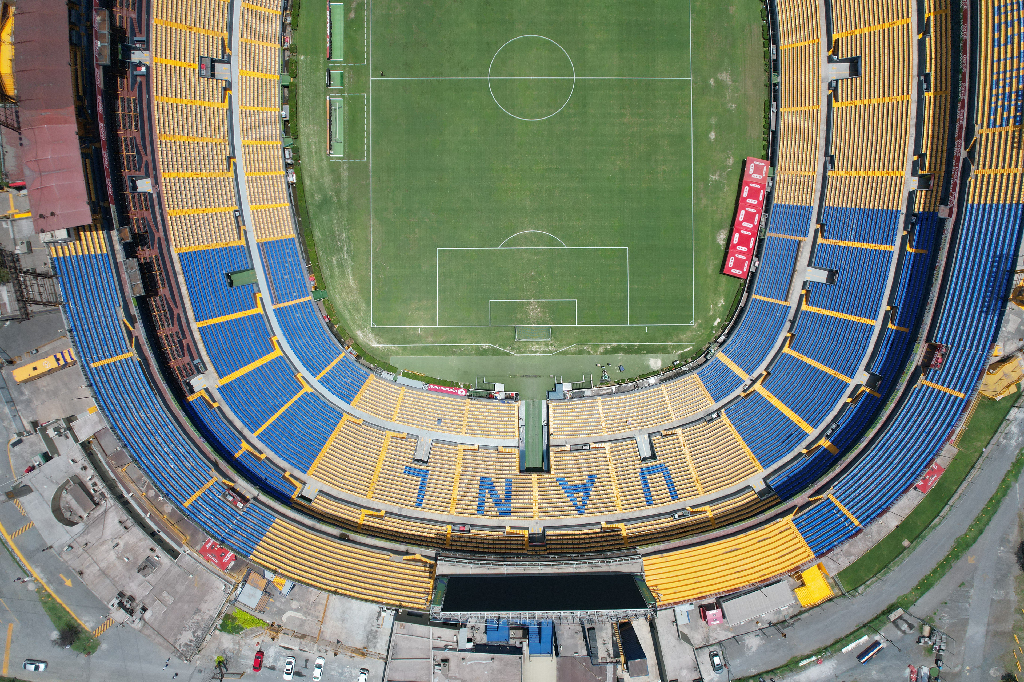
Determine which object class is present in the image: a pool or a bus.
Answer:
bus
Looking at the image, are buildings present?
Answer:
Yes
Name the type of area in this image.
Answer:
sports ground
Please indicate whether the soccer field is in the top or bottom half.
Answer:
top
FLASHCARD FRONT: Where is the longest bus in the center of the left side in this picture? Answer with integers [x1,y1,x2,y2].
[10,350,79,386]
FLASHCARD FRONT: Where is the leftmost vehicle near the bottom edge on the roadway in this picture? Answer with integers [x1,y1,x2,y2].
[22,659,45,672]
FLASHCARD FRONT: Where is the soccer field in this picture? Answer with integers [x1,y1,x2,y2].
[238,0,830,403]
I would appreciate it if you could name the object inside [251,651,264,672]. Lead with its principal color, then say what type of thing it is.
red vehicle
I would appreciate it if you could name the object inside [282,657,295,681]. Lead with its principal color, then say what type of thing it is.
white vehicle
